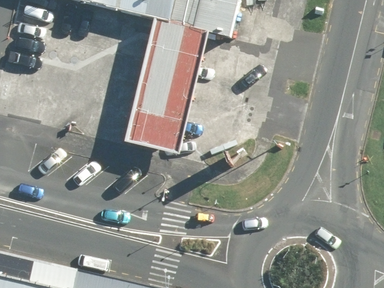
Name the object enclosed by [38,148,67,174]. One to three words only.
car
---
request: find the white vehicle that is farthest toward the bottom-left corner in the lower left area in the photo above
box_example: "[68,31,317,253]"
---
[78,252,112,271]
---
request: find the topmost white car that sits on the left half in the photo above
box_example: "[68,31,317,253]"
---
[22,4,54,22]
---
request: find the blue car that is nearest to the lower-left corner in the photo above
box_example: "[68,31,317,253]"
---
[17,183,46,200]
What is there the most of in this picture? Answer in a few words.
paved ground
